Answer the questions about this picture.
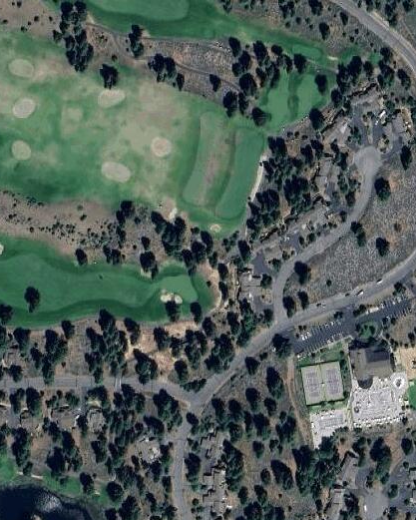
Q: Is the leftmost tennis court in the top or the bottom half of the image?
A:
bottom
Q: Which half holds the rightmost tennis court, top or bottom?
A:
bottom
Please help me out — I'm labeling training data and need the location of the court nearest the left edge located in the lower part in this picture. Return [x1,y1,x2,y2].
[302,364,326,405]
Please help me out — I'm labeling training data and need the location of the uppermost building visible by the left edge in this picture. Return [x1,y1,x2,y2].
[1,346,24,368]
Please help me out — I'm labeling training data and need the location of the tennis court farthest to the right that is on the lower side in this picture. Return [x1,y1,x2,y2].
[321,362,346,402]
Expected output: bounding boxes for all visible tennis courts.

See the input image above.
[321,362,346,402]
[302,364,326,405]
